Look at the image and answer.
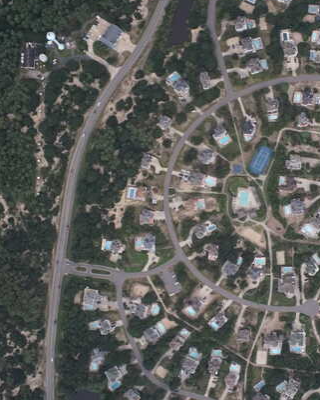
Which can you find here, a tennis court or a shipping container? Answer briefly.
tennis court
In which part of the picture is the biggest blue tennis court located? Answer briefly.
right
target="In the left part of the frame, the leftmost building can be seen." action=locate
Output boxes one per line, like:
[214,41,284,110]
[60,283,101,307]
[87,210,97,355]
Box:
[20,47,35,68]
